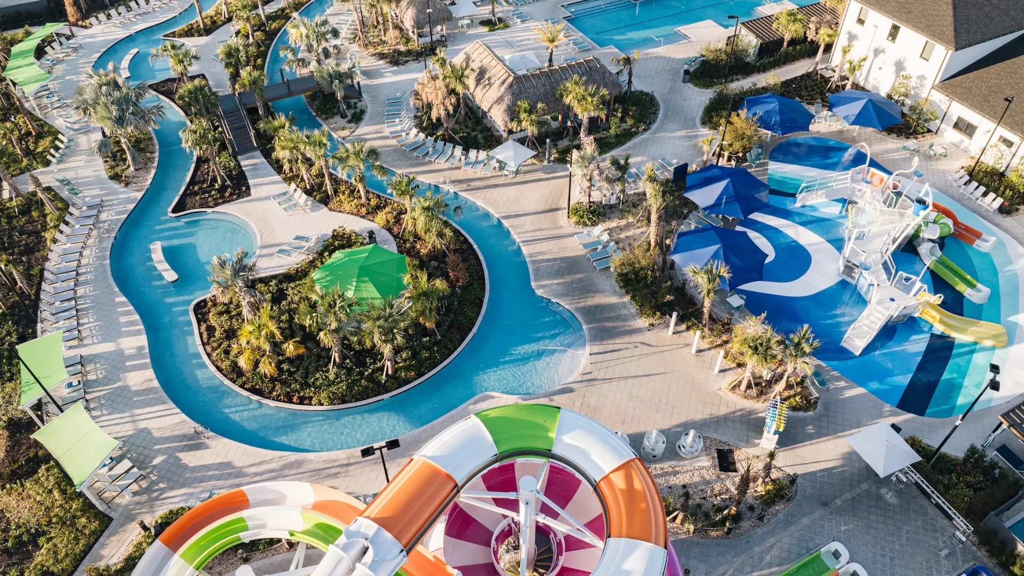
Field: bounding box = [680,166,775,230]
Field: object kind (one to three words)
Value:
umbrella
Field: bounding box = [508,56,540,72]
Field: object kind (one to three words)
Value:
umbrella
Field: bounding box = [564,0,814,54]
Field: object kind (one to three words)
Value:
swimming pool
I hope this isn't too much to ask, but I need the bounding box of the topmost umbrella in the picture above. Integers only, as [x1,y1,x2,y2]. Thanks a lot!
[444,1,487,41]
